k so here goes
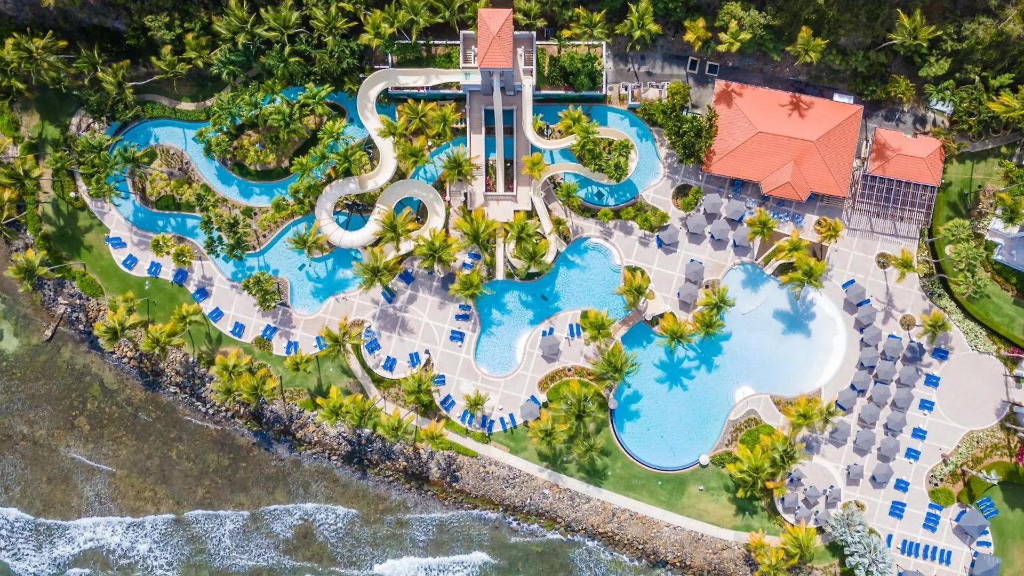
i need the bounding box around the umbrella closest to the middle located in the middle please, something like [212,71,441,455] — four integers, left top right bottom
[539,334,562,357]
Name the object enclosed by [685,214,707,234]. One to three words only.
umbrella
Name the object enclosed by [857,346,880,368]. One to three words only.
umbrella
